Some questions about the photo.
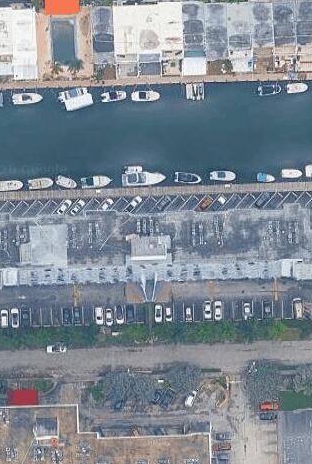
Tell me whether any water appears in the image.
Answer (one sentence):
Yes, water can be seen from above here.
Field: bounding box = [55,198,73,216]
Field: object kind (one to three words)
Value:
car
